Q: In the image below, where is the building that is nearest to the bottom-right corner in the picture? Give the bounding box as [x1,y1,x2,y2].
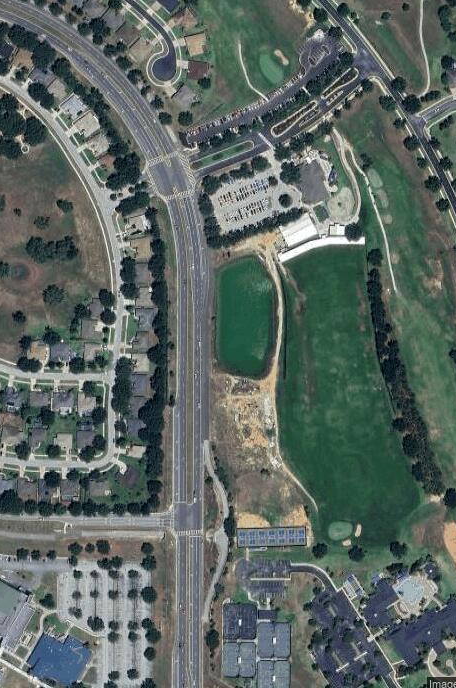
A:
[383,595,456,662]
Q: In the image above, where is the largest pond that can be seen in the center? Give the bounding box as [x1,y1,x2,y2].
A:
[214,257,273,378]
